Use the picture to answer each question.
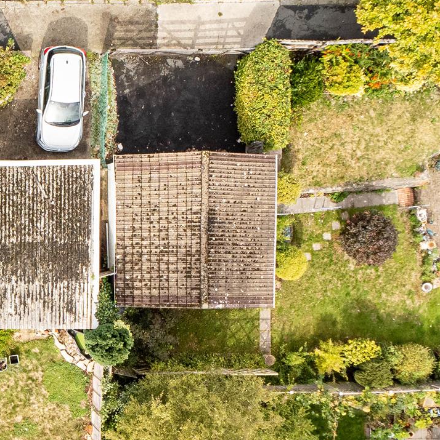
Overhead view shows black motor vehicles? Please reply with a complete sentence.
No, the scene contains no black motor vehicle.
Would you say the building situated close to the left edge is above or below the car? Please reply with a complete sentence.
In the image, the building situated close to the left edge sits below the car.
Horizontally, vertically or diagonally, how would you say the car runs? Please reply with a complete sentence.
In this picture, the car is oriented vertically.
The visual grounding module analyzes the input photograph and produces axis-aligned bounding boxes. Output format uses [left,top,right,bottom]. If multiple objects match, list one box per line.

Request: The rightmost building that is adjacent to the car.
[99,151,279,310]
